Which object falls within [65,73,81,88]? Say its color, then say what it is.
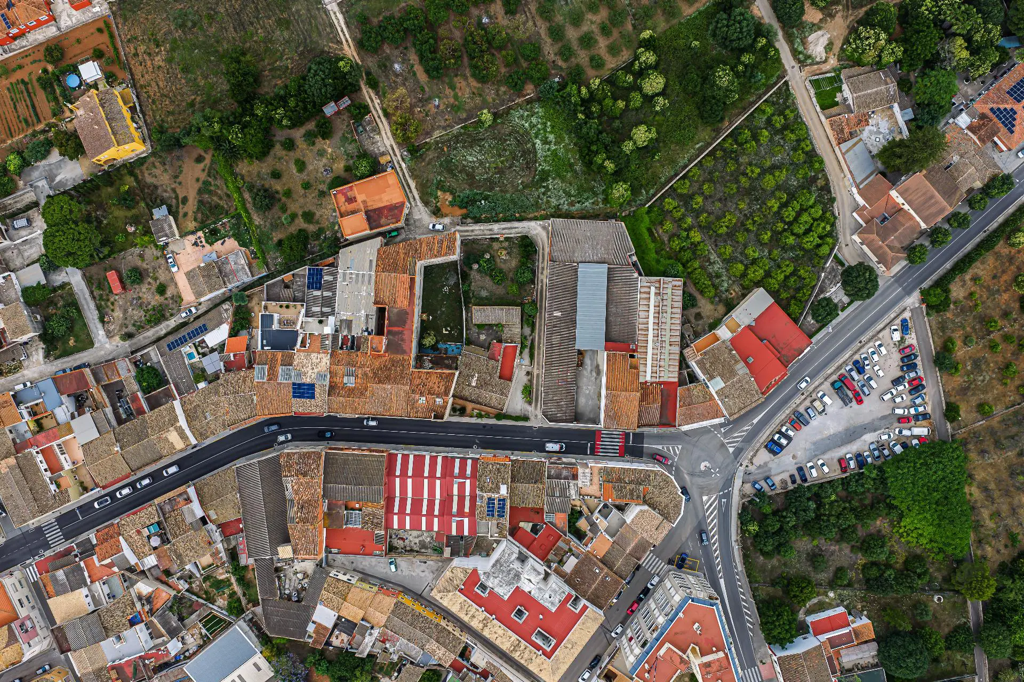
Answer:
blue swimming pool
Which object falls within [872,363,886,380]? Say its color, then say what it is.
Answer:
white car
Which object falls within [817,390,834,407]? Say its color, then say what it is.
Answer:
white car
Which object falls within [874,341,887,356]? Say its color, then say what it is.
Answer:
white vehicle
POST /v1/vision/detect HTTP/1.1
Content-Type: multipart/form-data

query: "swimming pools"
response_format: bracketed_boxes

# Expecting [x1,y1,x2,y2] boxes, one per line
[65,73,81,88]
[181,343,201,361]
